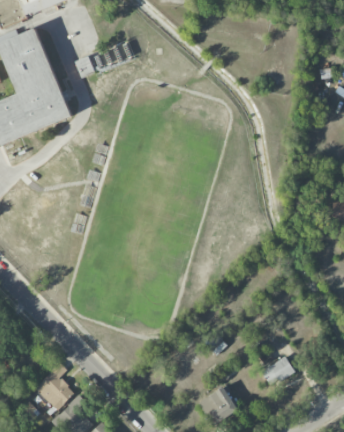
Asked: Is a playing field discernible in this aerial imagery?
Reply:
Yes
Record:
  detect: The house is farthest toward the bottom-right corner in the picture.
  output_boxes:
[264,358,294,386]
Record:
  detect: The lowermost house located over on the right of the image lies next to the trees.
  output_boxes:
[202,388,236,422]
